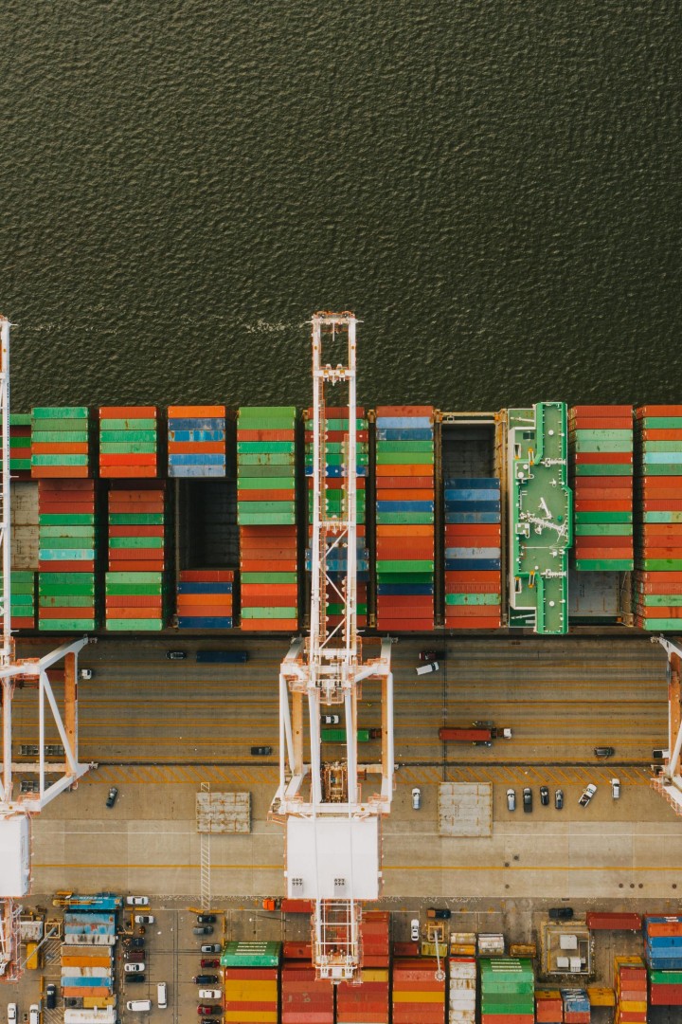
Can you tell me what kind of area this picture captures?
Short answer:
port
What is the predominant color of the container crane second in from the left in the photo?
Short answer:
white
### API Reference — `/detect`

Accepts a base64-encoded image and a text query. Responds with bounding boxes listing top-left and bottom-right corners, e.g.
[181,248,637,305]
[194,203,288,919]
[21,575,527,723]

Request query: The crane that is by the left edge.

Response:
[0,311,103,982]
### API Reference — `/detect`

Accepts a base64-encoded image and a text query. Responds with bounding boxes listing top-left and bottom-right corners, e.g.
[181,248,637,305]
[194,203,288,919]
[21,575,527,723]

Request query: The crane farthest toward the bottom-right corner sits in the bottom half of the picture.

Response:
[642,636,682,823]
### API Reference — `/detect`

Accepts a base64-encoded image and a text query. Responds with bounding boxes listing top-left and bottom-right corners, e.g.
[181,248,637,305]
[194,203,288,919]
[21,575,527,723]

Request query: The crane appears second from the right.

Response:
[268,309,399,988]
